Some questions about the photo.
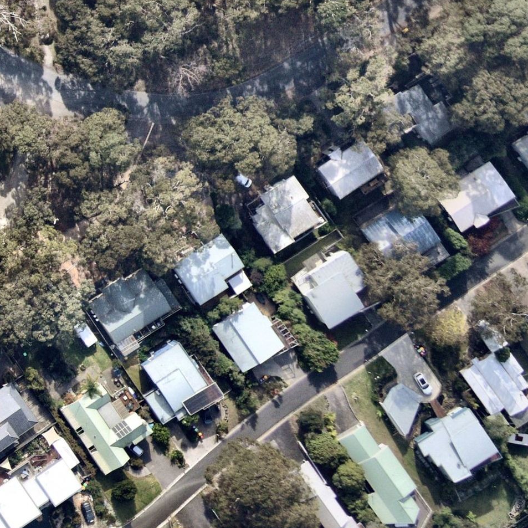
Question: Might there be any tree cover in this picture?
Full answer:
Yes, some tree cover is visible.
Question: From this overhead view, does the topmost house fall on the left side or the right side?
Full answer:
You can find the topmost house on the right side of the picture.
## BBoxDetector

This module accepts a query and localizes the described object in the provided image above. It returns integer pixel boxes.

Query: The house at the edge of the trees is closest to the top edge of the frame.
[395,77,452,141]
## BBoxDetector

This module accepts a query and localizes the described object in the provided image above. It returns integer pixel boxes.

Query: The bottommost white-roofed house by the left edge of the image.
[0,437,83,528]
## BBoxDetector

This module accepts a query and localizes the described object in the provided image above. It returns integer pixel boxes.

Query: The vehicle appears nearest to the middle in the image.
[254,286,267,306]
